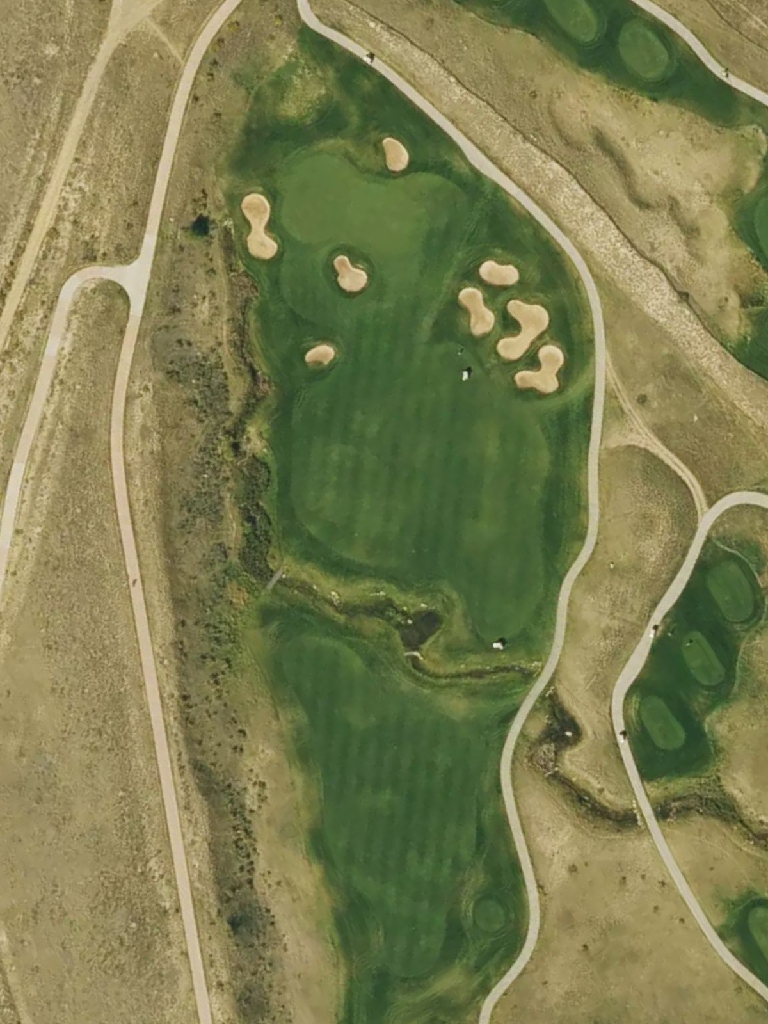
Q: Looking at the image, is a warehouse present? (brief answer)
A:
No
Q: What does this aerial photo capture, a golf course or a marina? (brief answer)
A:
golf course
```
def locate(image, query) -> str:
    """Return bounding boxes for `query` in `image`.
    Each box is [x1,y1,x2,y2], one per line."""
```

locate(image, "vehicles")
[363,56,373,66]
[618,733,625,744]
[648,628,655,639]
[462,370,469,381]
[493,643,504,649]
